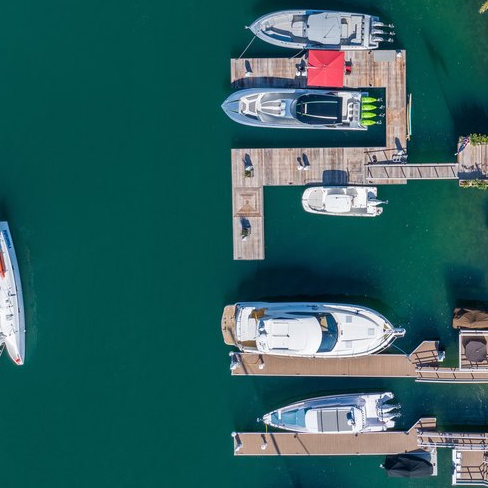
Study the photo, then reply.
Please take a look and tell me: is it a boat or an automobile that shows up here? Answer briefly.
boat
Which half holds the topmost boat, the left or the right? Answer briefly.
right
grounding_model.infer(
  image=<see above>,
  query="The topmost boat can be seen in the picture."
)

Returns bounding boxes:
[246,9,394,49]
